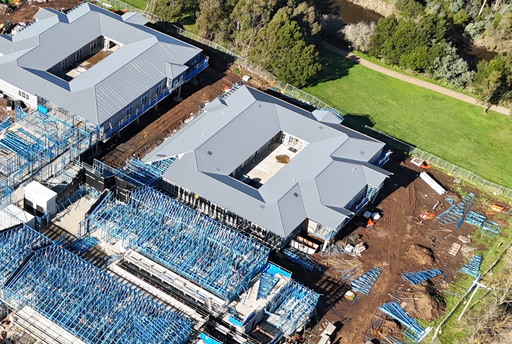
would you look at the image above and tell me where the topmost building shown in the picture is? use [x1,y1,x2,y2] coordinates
[0,6,208,150]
